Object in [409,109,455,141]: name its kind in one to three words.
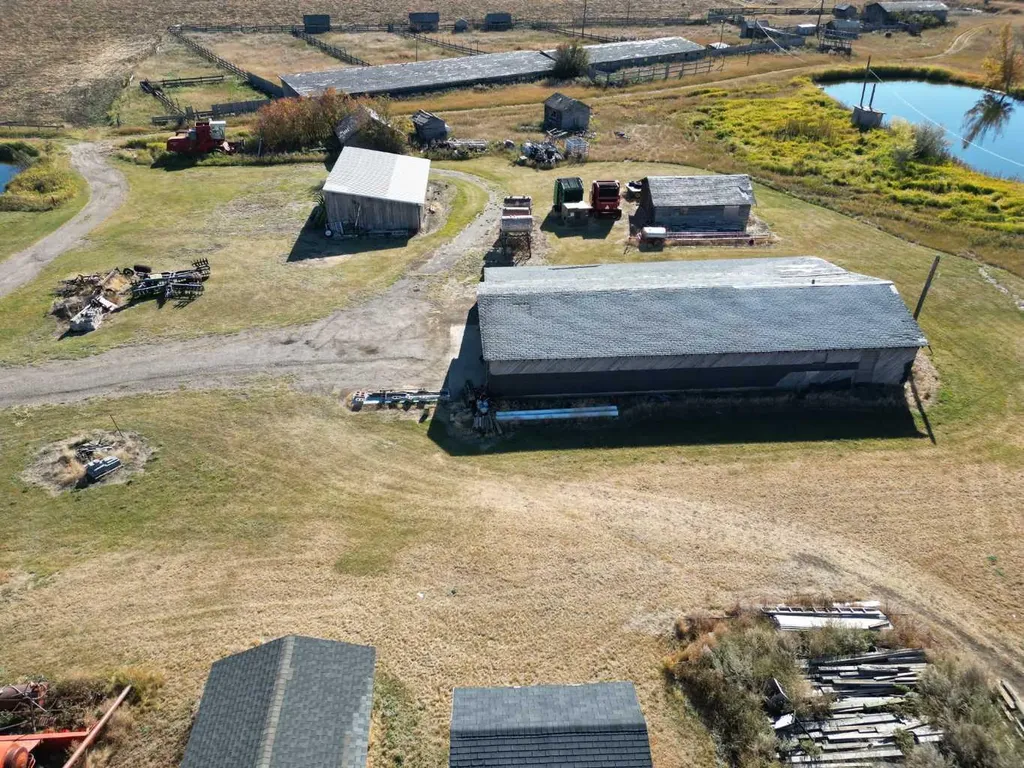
shed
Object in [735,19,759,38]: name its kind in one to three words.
shed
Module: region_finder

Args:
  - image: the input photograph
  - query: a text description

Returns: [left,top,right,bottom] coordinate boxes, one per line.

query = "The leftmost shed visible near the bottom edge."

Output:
[178,633,377,768]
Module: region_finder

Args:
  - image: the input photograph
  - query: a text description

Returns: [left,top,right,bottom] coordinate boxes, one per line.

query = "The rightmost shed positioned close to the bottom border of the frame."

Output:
[449,680,650,768]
